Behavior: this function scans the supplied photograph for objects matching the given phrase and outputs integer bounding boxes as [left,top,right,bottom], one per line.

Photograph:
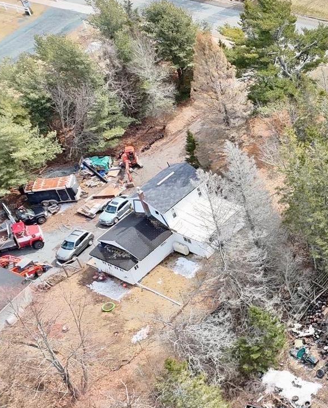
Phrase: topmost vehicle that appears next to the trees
[118,139,140,182]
